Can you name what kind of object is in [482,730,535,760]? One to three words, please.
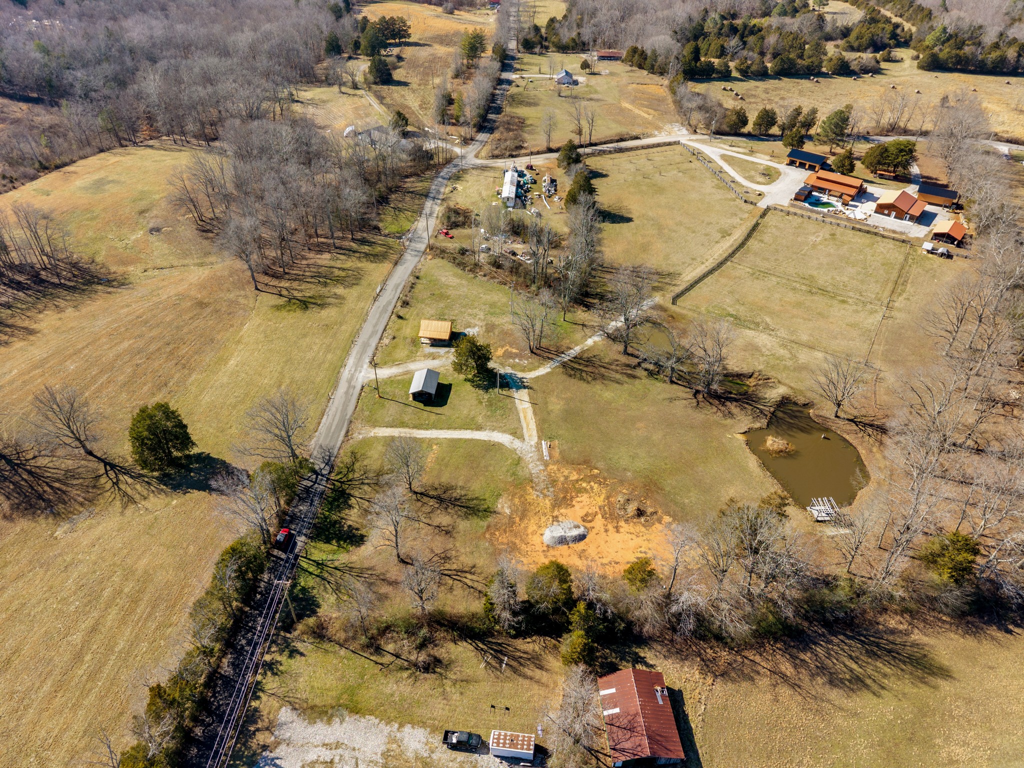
trailer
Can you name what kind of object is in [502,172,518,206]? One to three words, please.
house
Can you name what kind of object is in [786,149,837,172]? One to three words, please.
building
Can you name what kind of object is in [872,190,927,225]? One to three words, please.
barn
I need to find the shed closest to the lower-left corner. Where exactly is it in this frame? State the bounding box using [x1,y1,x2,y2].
[410,369,440,403]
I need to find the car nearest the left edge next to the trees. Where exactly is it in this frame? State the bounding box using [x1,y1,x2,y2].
[274,526,290,547]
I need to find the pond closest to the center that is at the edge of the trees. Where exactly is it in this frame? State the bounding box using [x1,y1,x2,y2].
[629,323,749,390]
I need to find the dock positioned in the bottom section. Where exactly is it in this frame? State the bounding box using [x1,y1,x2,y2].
[803,495,838,526]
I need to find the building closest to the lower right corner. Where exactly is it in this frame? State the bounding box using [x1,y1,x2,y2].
[596,668,685,768]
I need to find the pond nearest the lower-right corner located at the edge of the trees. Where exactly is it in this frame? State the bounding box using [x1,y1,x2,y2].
[742,402,870,510]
